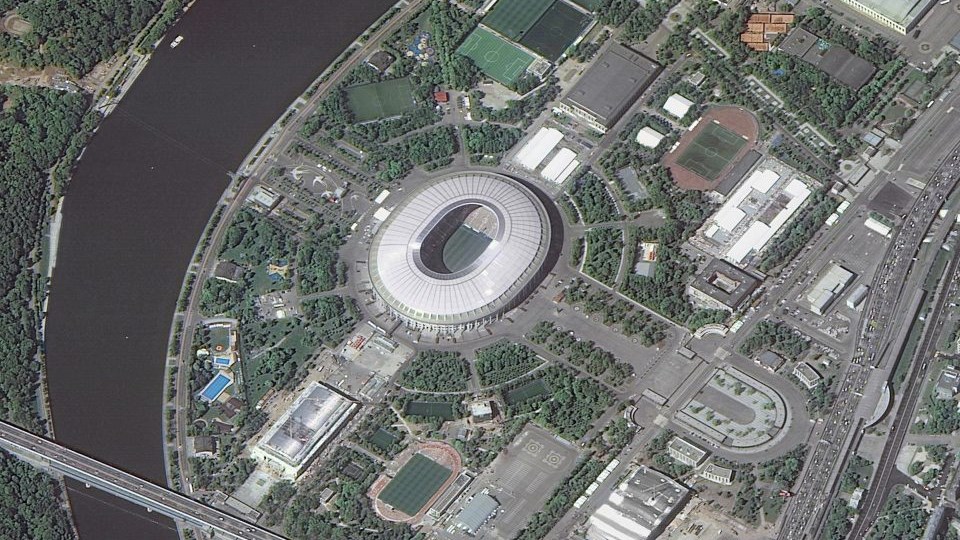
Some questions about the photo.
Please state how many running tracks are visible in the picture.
2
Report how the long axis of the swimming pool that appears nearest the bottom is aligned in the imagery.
diagonally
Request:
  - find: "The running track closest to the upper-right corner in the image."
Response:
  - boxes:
[660,105,758,190]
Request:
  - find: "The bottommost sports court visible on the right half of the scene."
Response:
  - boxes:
[616,166,646,199]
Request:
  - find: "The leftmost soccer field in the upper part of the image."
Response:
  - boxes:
[343,78,415,124]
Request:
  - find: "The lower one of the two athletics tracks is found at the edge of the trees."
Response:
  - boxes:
[369,441,461,524]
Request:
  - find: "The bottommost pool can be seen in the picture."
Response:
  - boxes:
[201,368,236,402]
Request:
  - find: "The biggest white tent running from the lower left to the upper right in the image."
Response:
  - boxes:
[516,128,563,172]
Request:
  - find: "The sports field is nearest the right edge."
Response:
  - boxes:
[675,121,746,181]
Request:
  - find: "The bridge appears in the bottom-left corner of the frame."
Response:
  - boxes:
[0,420,286,540]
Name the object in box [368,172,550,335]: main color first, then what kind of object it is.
white stadium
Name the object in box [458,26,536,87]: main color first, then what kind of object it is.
green soccer field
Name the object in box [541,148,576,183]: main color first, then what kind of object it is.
white tent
